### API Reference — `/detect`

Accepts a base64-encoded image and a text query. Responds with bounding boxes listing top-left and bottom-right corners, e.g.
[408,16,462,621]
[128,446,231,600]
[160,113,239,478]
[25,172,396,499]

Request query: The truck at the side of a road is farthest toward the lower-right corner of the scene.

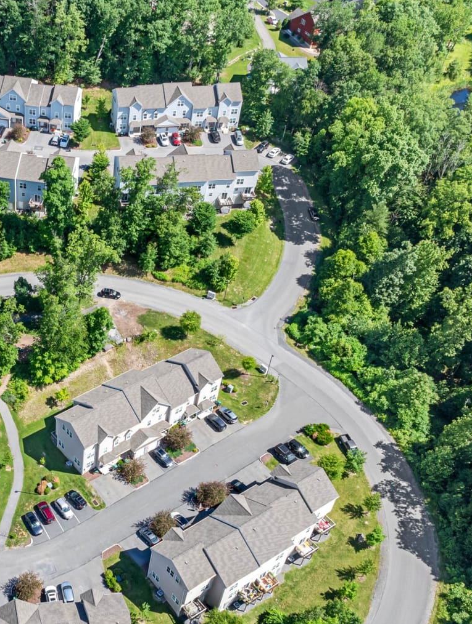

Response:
[334,428,363,452]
